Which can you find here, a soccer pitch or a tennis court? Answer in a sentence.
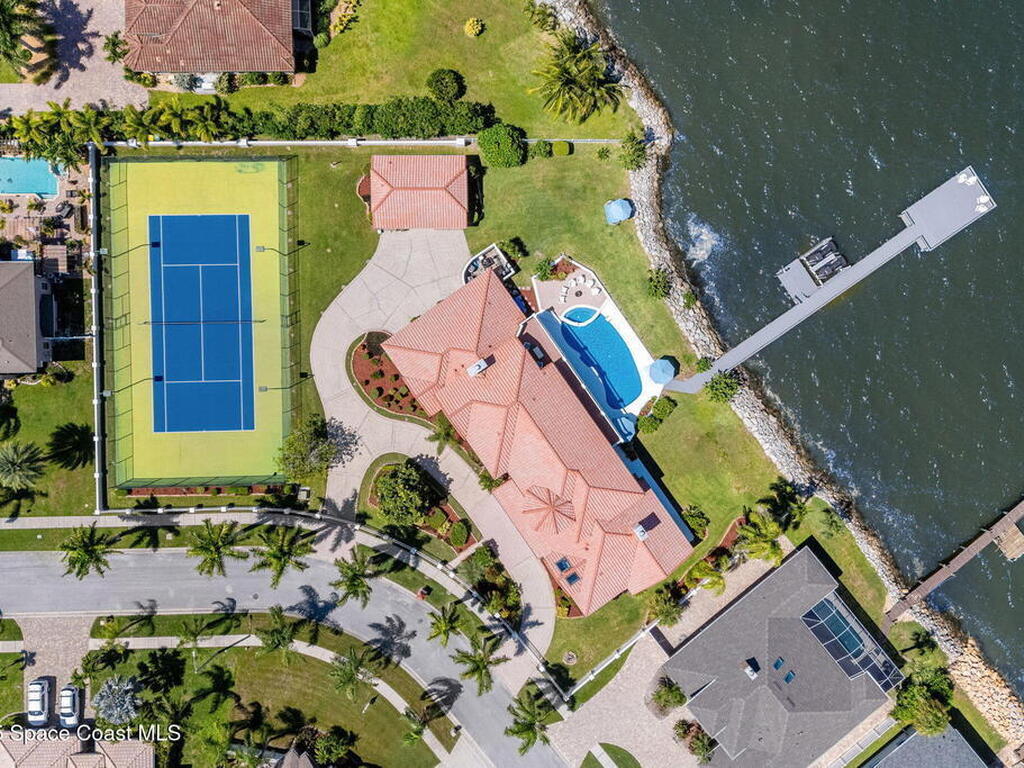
This aerial view contains a tennis court.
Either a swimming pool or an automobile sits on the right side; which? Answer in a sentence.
It is a swimming pool that can be seen on the right side.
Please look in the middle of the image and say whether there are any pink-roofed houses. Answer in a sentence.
Yes, a pink-roofed house is visible in the middle of the image.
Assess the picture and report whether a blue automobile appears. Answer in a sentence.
No, there appears to be no blue automobile in this shot.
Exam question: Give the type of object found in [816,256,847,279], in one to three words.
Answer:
vessel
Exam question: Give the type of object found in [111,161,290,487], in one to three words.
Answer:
tennis court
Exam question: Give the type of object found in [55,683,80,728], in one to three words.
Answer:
car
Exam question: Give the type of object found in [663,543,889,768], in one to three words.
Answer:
house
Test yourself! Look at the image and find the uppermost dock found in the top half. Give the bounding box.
[664,166,996,393]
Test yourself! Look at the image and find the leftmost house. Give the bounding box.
[0,262,65,373]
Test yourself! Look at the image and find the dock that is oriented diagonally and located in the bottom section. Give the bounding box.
[879,500,1024,632]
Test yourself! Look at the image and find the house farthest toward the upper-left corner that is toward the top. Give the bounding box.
[123,0,296,79]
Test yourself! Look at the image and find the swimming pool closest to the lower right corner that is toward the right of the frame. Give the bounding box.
[811,598,865,659]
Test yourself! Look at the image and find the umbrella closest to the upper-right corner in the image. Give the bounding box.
[607,200,632,225]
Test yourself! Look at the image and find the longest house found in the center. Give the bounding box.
[384,268,693,617]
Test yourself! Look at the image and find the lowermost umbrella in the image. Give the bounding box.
[616,416,639,439]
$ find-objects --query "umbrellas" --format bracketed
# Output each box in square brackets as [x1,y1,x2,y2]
[607,200,632,225]
[616,416,639,439]
[650,359,674,383]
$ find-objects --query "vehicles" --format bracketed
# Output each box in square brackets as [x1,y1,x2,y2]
[25,678,50,726]
[55,683,80,728]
